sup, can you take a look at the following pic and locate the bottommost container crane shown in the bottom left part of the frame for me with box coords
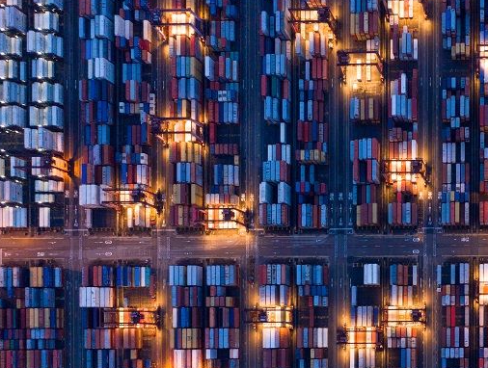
[100,307,163,327]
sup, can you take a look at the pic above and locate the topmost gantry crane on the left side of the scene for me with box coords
[148,8,205,41]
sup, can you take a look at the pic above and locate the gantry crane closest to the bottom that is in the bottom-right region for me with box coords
[335,327,382,346]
